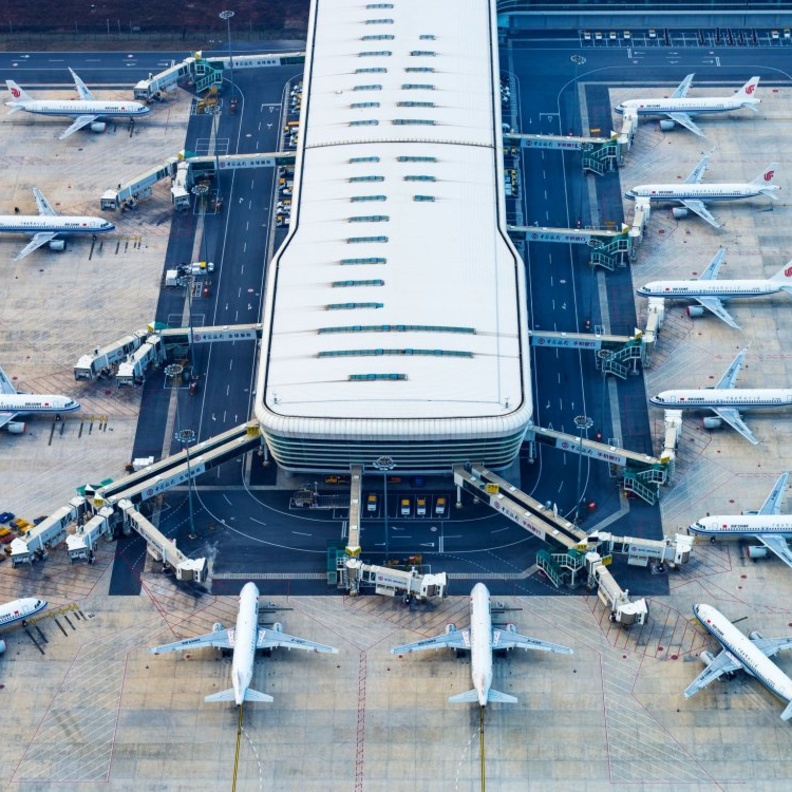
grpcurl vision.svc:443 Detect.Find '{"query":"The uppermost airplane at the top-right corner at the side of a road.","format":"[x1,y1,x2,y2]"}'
[616,72,762,137]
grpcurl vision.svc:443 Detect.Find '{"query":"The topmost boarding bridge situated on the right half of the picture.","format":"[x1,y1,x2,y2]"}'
[611,101,638,169]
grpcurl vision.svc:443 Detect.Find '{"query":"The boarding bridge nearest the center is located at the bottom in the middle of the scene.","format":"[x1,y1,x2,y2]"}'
[344,550,443,610]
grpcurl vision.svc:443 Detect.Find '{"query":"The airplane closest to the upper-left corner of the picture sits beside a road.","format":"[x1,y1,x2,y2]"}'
[4,76,150,142]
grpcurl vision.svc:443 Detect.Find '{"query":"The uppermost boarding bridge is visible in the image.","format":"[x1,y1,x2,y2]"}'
[137,56,196,103]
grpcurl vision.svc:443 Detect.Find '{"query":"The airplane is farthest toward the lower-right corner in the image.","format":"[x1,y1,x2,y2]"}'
[688,607,792,714]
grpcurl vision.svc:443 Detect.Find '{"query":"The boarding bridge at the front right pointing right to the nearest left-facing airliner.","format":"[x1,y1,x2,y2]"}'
[582,531,694,578]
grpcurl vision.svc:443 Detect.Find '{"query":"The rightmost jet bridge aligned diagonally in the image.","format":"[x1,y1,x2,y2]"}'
[568,547,644,630]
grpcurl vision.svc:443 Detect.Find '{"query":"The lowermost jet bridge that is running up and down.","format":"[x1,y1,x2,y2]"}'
[657,401,683,491]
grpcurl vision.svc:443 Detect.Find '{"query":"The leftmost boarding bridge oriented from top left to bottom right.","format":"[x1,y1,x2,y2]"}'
[108,500,203,583]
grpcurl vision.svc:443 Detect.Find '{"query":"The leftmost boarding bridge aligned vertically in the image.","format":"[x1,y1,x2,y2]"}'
[171,162,193,211]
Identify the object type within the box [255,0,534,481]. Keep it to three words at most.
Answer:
building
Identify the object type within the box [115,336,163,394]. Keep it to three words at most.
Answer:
jet bridge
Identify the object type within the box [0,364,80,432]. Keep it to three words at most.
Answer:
airplane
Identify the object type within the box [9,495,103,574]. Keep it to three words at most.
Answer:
jet bridge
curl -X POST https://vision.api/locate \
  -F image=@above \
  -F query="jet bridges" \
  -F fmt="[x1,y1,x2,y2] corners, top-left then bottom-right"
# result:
[108,500,203,583]
[625,193,650,264]
[568,547,644,630]
[101,159,183,215]
[9,495,103,574]
[344,550,443,610]
[67,505,117,571]
[115,336,163,394]
[657,401,683,491]
[137,56,196,103]
[582,531,694,578]
[611,101,638,169]
[171,162,193,211]
[639,292,666,370]
[75,329,155,385]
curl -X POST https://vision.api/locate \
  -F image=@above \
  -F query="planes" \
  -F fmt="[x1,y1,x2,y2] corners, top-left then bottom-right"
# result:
[4,76,150,142]
[688,607,792,714]
[650,345,792,443]
[626,147,781,225]
[689,474,792,572]
[0,364,80,432]
[391,586,572,704]
[638,241,792,329]
[0,186,115,262]
[616,72,762,137]
[153,586,334,704]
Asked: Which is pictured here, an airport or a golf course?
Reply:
airport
